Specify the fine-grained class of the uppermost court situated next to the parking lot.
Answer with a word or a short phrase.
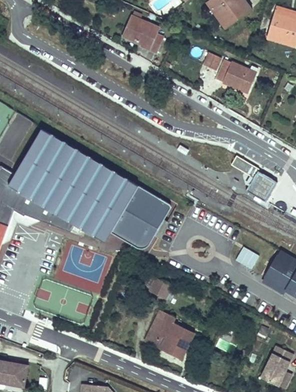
basketball court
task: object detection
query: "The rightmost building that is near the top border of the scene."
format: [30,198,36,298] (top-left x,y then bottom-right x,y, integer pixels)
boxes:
[268,5,296,48]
